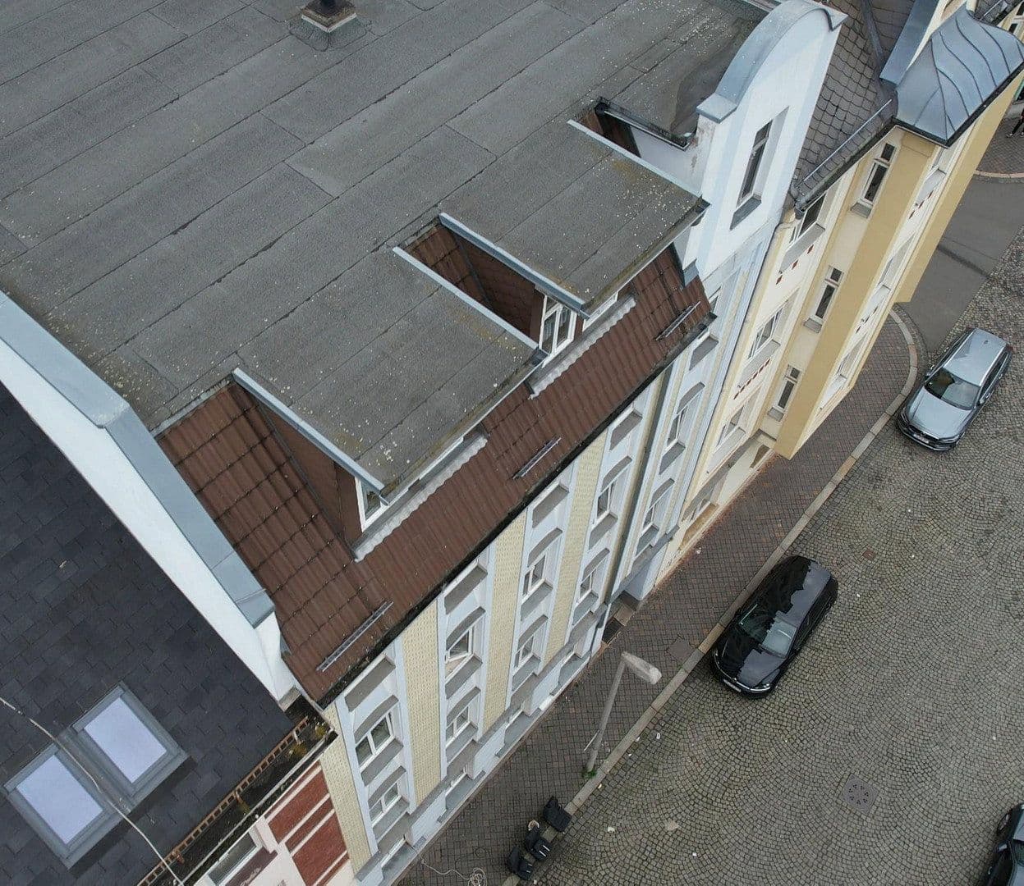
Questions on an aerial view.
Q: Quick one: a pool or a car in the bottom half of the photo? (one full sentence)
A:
There is a car in the bottom half of the photo.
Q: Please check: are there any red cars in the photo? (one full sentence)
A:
No, the picture doesn't show any red car.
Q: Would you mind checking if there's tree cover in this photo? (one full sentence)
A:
No, the picture contains no tree cover.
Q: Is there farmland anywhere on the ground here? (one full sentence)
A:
No, the picture contains no farmland.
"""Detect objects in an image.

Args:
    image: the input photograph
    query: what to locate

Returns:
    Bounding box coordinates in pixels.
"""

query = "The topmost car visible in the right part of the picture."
[901,333,1017,457]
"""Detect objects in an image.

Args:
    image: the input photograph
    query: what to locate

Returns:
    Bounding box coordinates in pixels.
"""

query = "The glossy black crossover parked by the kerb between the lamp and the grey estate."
[713,560,841,702]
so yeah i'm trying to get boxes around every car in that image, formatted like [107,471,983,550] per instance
[973,813,1024,886]
[713,560,841,702]
[901,333,1017,457]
